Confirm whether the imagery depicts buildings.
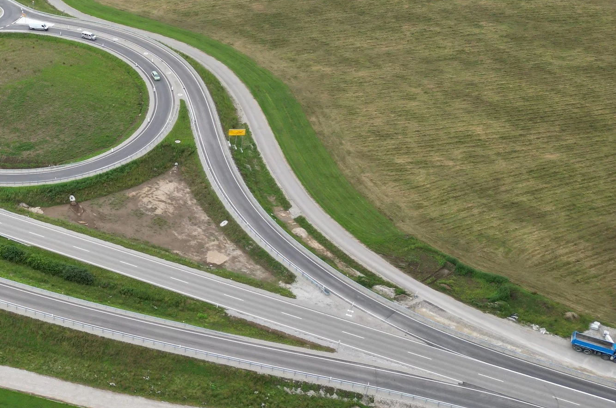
No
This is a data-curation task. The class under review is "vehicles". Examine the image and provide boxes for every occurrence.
[28,19,49,29]
[576,332,616,362]
[151,69,162,78]
[81,29,96,40]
